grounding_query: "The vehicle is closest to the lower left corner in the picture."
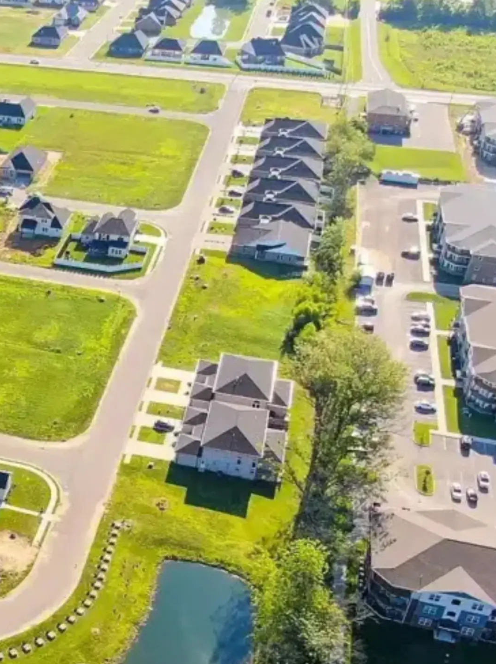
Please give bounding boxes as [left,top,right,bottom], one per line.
[149,415,173,429]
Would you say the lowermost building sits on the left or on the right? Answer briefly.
right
